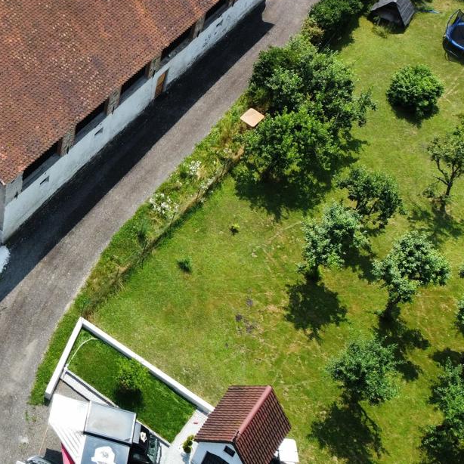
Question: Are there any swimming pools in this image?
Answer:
No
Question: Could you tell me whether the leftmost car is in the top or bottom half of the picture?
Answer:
bottom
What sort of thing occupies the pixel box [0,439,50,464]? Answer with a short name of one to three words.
car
